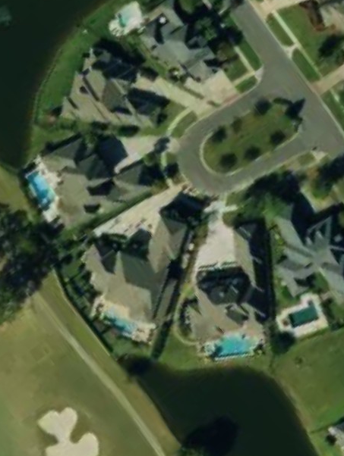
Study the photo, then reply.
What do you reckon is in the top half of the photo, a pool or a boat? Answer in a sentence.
The one visible in the top half of the photo is a pool.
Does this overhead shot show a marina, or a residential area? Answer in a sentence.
This image shows a residential area.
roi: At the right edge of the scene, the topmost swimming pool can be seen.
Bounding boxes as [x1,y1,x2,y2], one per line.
[276,295,329,336]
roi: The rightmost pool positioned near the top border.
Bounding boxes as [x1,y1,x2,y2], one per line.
[109,1,142,37]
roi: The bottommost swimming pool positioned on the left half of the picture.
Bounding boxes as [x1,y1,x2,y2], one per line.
[93,297,155,341]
